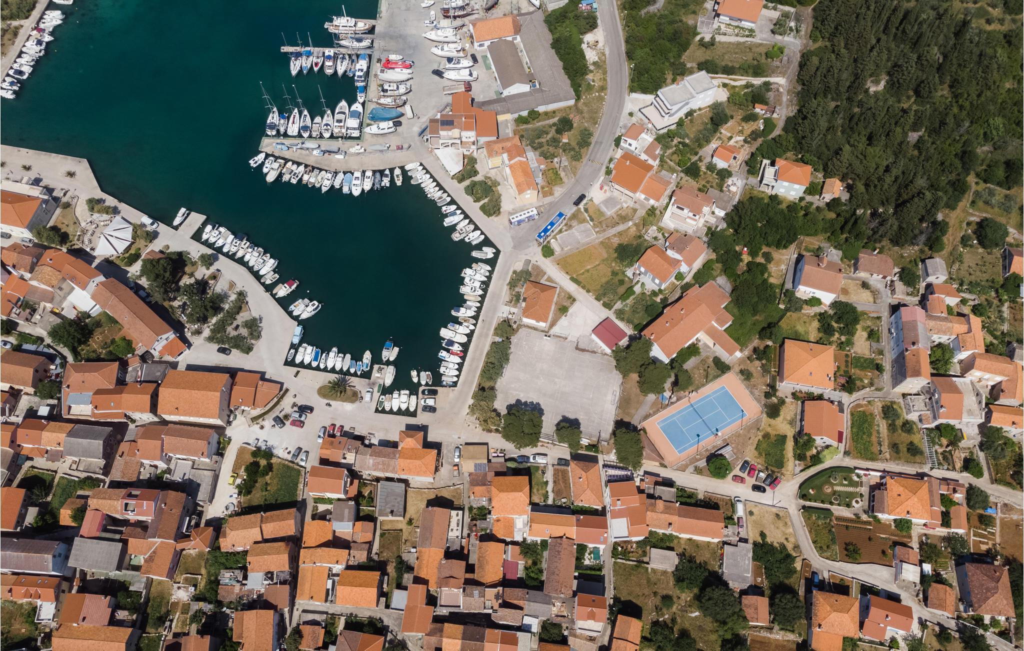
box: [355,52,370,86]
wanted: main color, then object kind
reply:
white boat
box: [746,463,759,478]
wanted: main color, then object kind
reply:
red vehicle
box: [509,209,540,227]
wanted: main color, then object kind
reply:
white vehicle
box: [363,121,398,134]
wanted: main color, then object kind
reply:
white boat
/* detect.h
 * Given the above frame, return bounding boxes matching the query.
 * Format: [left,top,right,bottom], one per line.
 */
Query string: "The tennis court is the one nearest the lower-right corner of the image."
[639,367,763,469]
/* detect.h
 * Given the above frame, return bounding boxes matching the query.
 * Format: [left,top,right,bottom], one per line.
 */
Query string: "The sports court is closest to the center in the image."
[494,328,623,442]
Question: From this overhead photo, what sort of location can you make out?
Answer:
residential area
